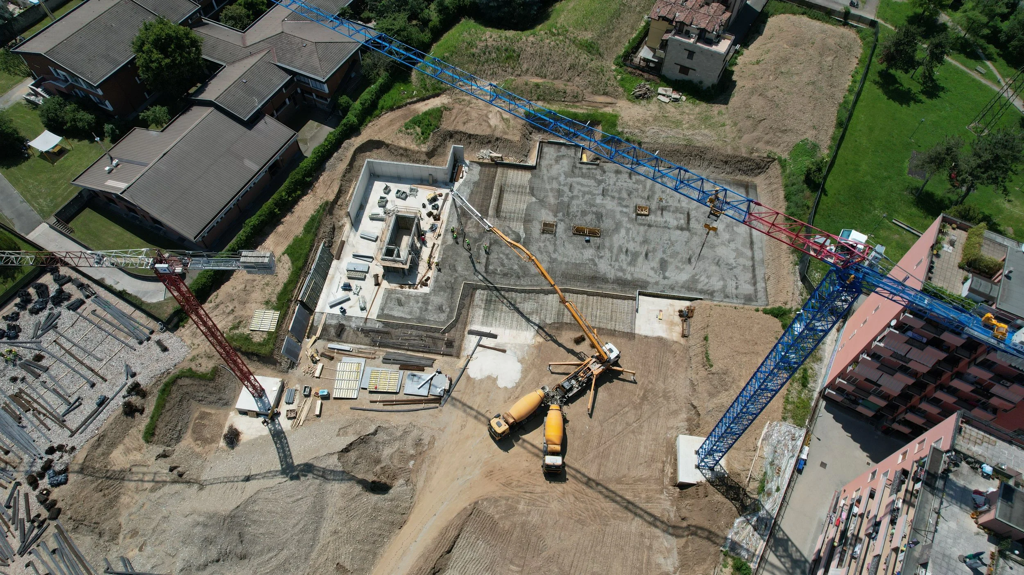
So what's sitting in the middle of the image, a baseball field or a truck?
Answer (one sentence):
The feature located in the middle of the image is a truck.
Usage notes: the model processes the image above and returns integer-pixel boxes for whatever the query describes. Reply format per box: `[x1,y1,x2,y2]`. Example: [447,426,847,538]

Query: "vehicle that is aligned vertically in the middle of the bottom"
[540,386,569,475]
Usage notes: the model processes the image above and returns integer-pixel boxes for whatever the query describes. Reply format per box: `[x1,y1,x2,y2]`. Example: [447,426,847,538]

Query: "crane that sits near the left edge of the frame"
[0,242,288,402]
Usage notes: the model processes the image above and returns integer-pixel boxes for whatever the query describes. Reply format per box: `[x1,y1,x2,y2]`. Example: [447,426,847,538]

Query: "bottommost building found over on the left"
[71,105,298,246]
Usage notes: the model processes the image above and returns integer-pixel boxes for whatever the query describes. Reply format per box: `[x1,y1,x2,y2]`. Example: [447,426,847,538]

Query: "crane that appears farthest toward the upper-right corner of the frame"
[270,0,1024,470]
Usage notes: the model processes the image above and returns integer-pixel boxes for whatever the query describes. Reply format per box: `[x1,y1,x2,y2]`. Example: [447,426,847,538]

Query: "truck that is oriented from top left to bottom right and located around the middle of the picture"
[449,190,636,415]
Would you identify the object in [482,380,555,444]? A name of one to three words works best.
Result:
truck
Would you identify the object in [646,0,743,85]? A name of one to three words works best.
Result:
house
